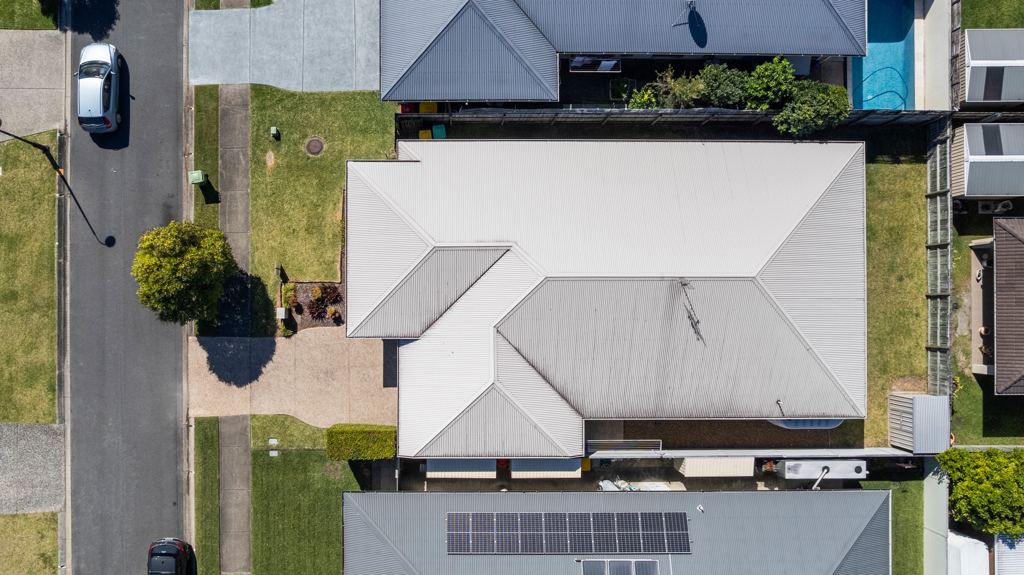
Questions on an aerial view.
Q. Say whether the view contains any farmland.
No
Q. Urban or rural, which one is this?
urban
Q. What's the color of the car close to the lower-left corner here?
black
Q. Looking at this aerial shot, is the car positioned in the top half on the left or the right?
left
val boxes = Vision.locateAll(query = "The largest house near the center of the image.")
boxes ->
[345,141,866,459]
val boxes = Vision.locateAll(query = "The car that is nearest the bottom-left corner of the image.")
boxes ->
[147,537,188,575]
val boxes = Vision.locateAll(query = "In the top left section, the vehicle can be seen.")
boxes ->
[73,42,123,133]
